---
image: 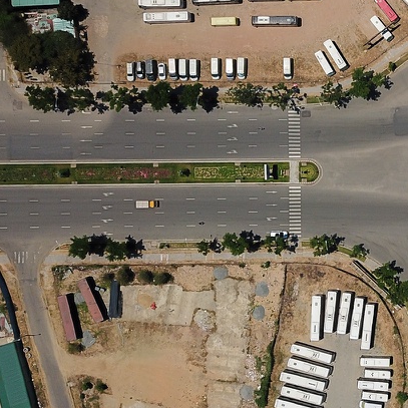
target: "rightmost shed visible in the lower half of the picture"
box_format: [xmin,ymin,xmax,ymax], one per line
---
[78,278,108,322]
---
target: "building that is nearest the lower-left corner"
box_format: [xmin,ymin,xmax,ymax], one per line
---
[0,340,39,408]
